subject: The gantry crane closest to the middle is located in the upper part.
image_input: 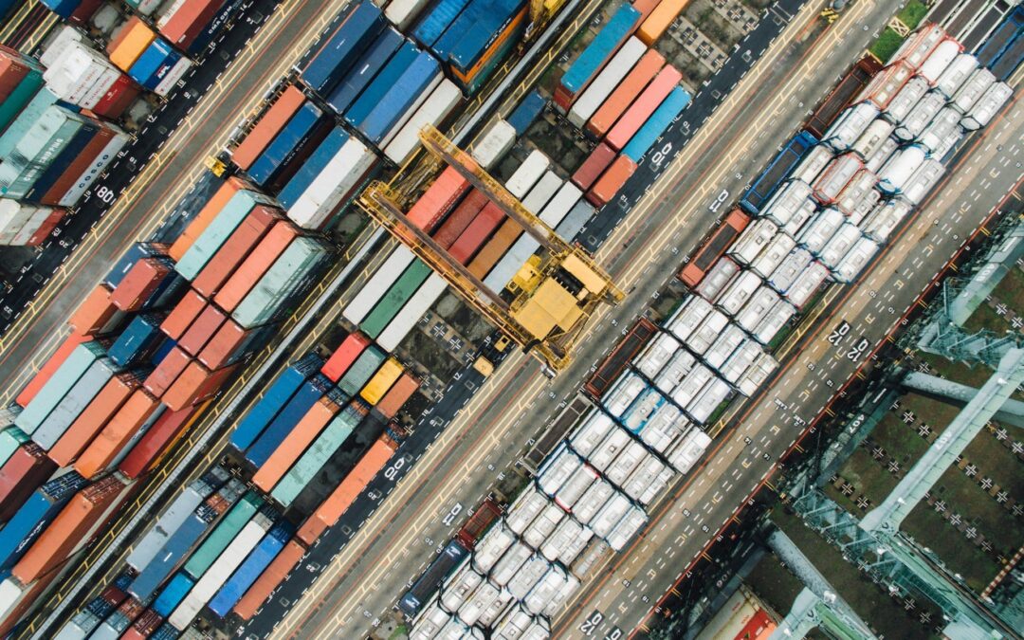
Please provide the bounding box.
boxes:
[348,111,630,376]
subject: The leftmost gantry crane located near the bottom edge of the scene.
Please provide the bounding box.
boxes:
[656,486,891,640]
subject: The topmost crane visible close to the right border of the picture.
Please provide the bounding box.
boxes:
[899,197,1024,396]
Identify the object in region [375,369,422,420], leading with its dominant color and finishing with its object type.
red shipping container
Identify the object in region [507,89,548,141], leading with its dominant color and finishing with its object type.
blue shipping container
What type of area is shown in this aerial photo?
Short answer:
industrial area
